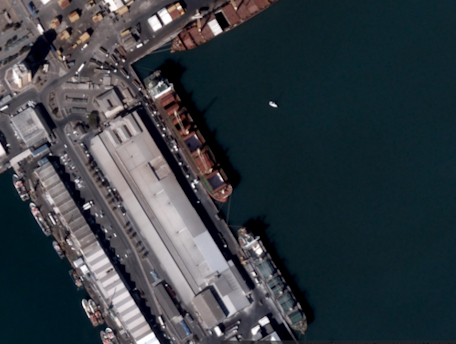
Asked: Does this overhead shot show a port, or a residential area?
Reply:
port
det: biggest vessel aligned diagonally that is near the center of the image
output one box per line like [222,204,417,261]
[144,71,229,203]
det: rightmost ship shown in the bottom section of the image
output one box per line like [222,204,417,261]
[236,226,306,334]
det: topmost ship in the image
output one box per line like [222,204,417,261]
[170,0,283,55]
